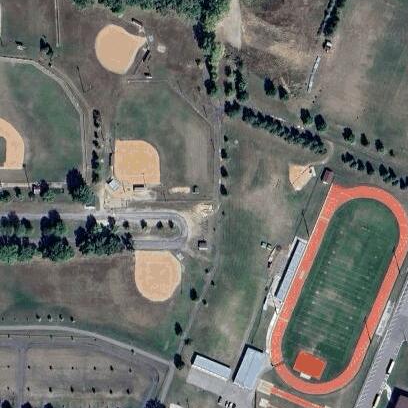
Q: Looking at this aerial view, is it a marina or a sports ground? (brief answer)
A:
sports ground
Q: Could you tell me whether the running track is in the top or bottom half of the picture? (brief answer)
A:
bottom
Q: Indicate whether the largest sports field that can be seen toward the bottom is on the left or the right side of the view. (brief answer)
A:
right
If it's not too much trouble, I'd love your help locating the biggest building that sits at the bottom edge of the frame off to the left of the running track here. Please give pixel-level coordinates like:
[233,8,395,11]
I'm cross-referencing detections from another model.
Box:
[234,347,266,389]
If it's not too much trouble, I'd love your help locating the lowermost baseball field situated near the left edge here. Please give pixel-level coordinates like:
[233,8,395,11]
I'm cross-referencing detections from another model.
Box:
[0,68,80,181]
